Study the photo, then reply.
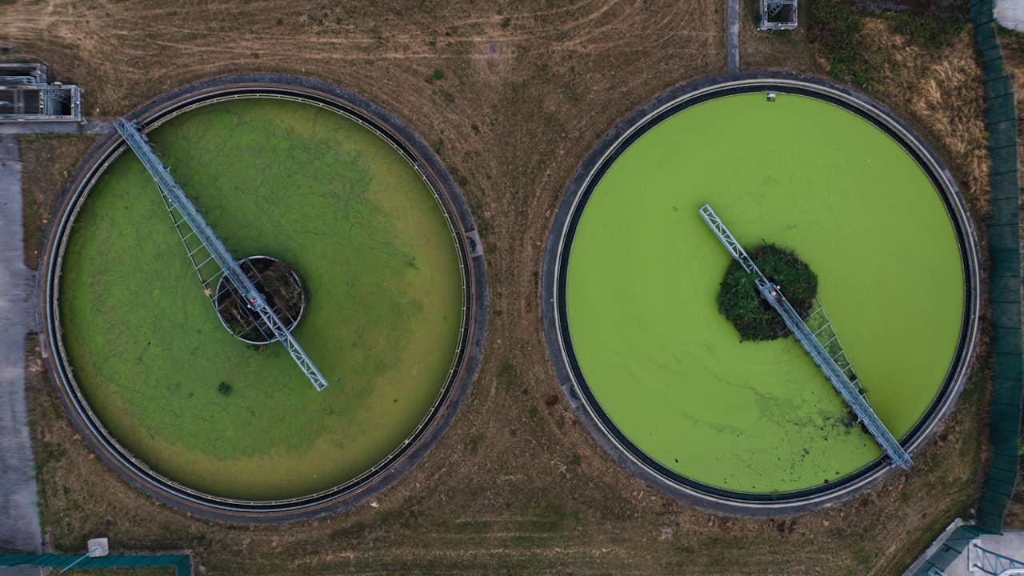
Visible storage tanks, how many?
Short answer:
2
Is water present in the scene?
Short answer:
Yes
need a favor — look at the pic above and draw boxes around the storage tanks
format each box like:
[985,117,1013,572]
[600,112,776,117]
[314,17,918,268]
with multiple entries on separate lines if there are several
[41,82,477,517]
[552,79,981,507]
